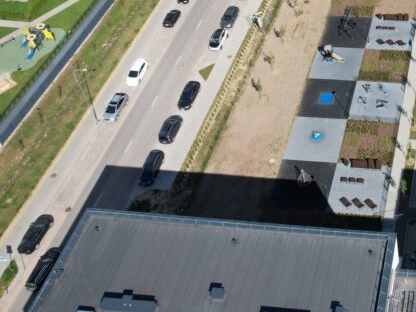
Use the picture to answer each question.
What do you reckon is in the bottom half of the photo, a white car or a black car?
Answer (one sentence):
What appears in the bottom half of the photo is a black car.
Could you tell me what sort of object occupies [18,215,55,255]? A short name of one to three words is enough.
car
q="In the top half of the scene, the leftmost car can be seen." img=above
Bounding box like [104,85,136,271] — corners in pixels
[102,94,130,123]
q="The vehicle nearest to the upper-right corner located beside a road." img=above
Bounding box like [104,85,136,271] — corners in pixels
[220,7,240,28]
